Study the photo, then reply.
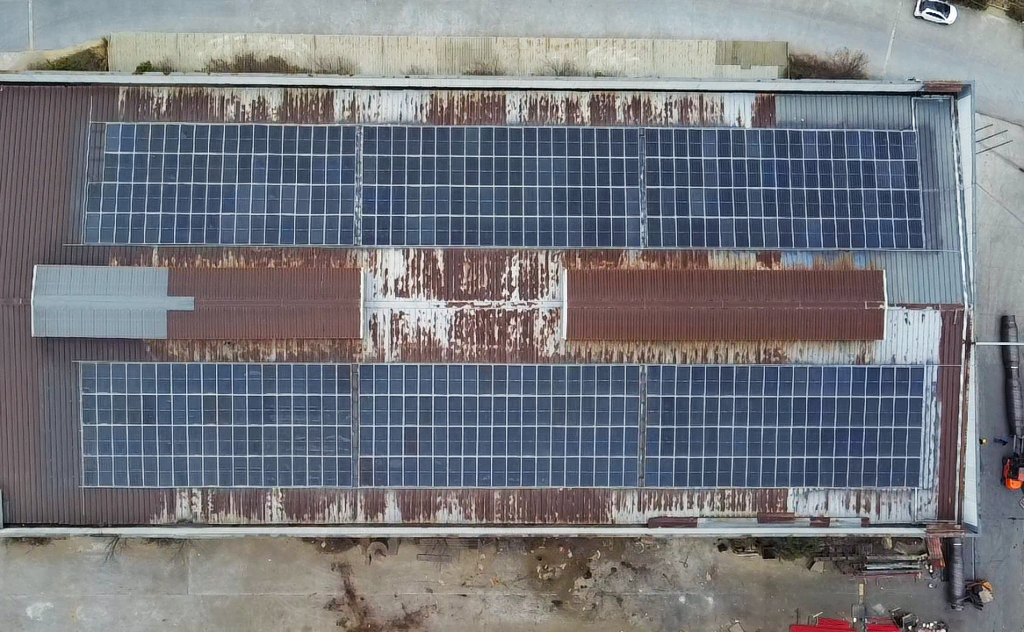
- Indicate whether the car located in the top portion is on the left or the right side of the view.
right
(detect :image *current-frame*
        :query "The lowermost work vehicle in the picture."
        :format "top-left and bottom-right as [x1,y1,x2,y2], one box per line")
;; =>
[965,582,996,613]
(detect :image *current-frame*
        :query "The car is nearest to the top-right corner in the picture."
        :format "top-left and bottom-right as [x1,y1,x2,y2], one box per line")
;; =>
[915,0,959,24]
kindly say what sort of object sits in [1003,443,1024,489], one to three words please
work vehicle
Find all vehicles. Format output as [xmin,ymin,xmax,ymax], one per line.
[965,582,996,613]
[915,0,959,24]
[1003,443,1024,489]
